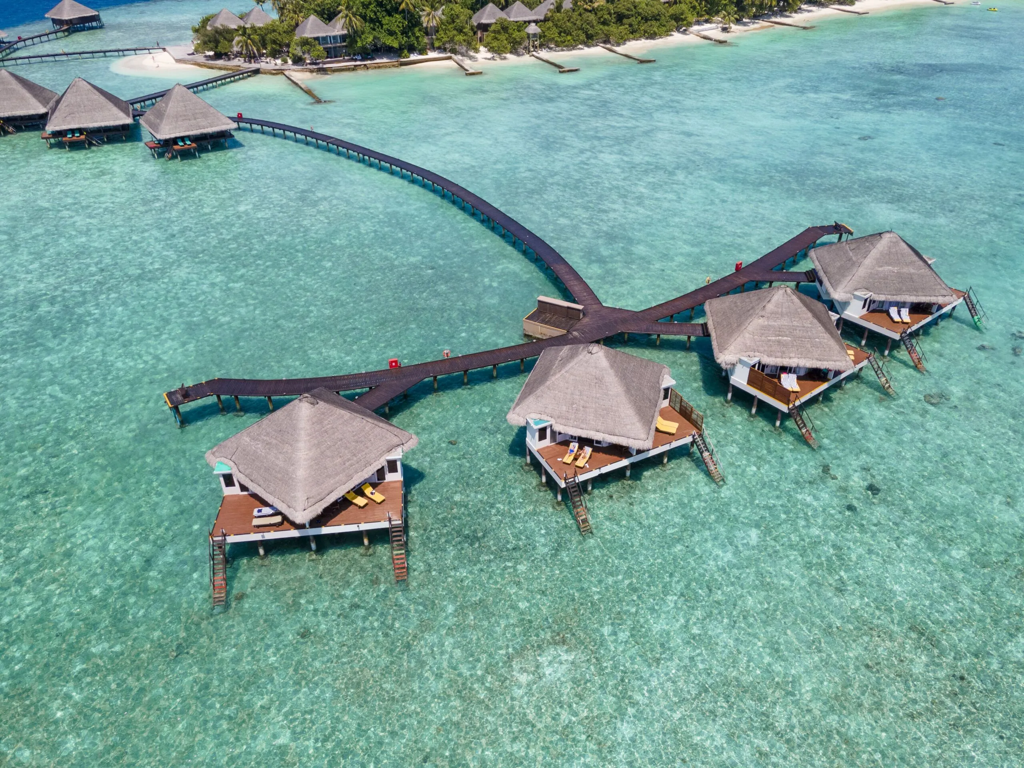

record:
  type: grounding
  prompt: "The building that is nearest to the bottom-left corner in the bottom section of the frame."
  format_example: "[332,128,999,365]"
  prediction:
[203,385,421,614]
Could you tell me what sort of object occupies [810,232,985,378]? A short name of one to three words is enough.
house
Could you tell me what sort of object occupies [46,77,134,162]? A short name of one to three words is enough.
house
